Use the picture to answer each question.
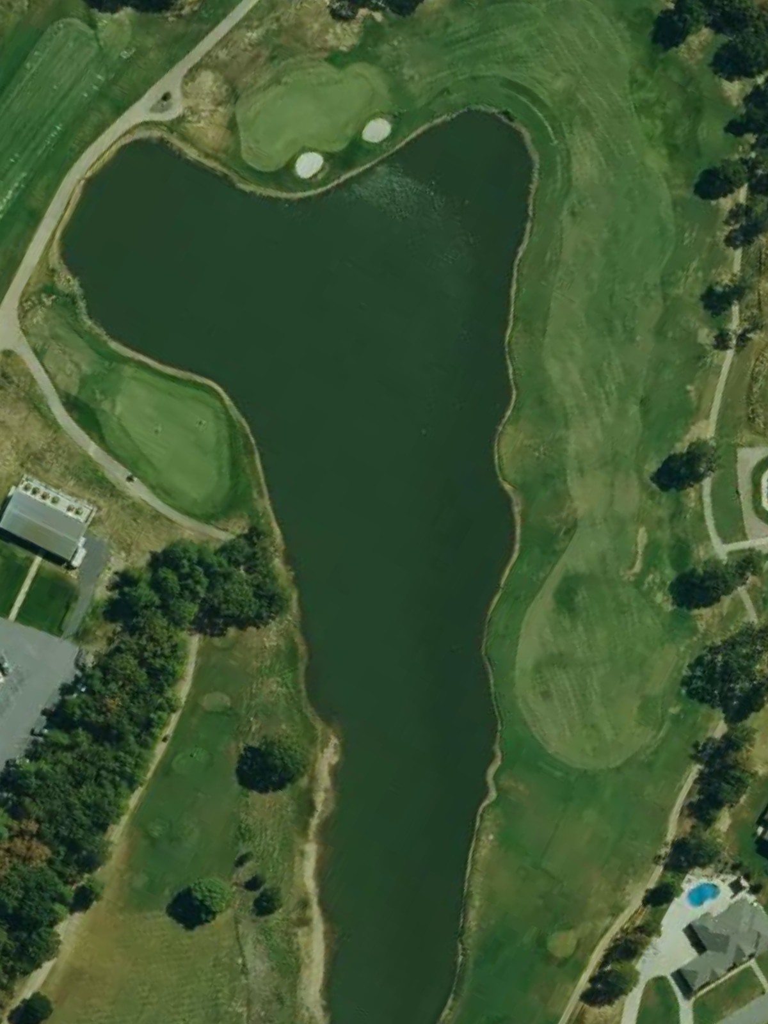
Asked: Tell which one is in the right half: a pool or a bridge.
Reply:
pool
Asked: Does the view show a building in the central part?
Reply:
No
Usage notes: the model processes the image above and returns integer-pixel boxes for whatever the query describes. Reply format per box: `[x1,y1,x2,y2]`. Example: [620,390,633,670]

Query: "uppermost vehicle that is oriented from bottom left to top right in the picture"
[70,546,86,566]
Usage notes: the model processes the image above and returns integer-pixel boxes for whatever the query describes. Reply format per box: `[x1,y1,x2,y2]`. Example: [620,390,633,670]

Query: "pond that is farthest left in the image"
[61,108,533,1024]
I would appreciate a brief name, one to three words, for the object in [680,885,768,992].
house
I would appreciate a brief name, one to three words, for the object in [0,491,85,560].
building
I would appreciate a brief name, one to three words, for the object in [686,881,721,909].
swimming pool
